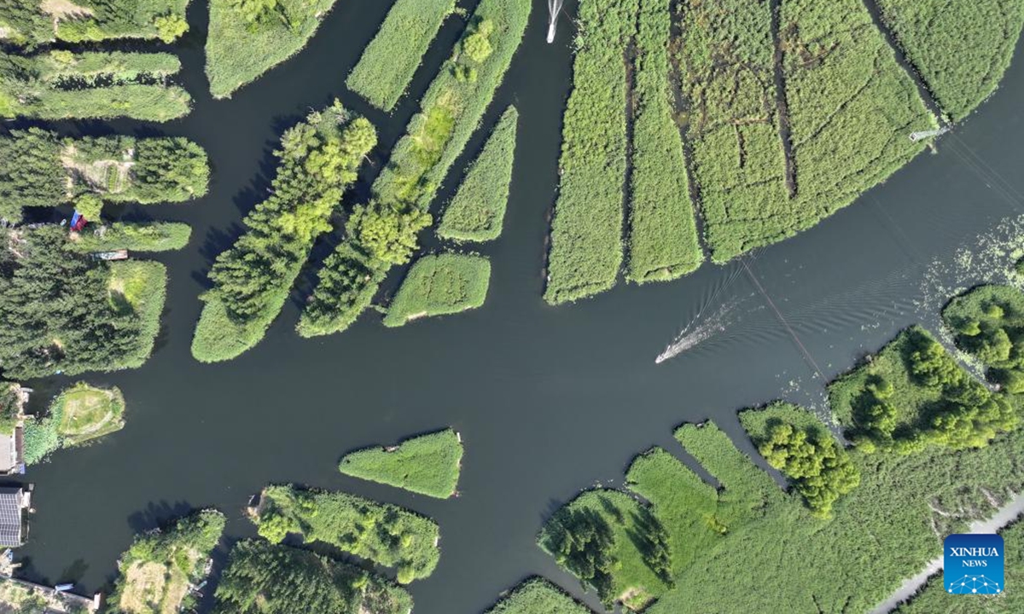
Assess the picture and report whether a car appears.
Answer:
No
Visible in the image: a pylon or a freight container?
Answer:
pylon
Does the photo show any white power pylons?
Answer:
Yes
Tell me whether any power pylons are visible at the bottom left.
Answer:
No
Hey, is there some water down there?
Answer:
Yes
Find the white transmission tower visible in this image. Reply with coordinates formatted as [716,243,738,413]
[908,118,951,142]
